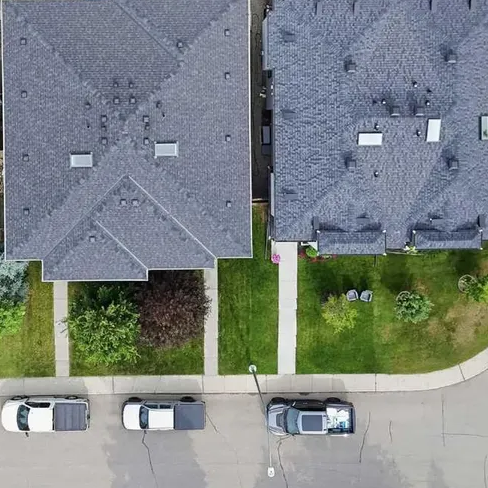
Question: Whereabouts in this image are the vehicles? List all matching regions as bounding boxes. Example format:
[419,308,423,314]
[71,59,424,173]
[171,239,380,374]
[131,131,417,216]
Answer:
[1,397,91,440]
[270,398,358,441]
[123,398,205,438]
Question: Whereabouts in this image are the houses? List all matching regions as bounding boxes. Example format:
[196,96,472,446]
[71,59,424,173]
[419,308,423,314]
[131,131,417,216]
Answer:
[261,0,488,255]
[0,0,253,282]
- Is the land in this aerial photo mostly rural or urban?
urban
